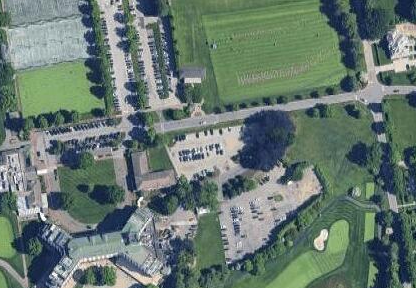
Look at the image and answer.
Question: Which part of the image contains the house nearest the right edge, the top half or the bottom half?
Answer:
top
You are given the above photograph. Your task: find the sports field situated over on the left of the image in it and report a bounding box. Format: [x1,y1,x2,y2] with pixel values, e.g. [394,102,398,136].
[16,61,104,117]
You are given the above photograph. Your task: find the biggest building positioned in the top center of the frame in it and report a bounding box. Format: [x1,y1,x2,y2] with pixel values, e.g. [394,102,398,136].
[180,67,204,85]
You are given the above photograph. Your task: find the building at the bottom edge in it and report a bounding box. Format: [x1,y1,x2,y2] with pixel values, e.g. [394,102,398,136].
[40,204,166,288]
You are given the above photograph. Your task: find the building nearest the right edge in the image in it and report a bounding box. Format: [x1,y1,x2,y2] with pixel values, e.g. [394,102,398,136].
[388,28,416,63]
